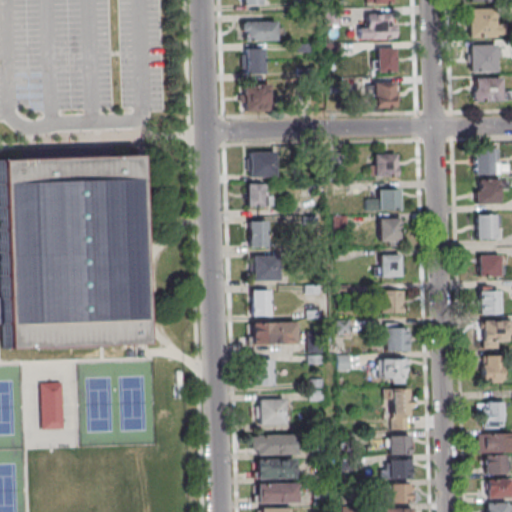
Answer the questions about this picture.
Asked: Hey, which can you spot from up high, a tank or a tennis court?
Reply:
tennis court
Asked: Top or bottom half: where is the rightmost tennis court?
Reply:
bottom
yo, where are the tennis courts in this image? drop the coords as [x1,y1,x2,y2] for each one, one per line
[116,361,154,444]
[0,366,22,448]
[78,362,117,446]
[0,449,24,512]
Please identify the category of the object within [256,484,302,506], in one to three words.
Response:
house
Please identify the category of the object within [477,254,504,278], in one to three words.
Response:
house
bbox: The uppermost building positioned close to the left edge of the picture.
[0,154,154,350]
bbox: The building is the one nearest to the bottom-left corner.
[39,382,64,430]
